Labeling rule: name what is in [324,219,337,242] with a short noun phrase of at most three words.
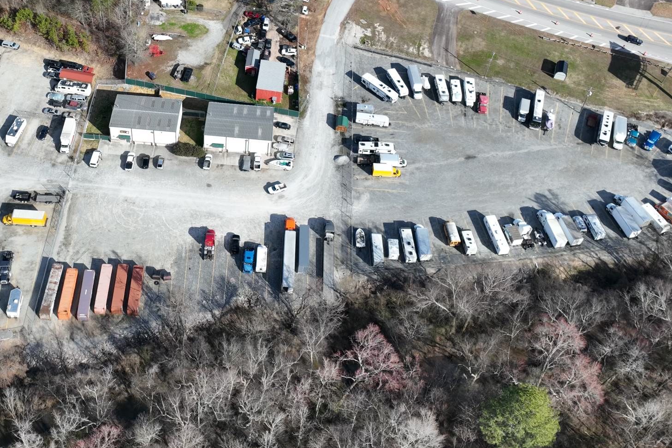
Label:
vehicle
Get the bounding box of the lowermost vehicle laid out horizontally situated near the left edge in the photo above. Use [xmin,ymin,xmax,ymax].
[2,210,48,228]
